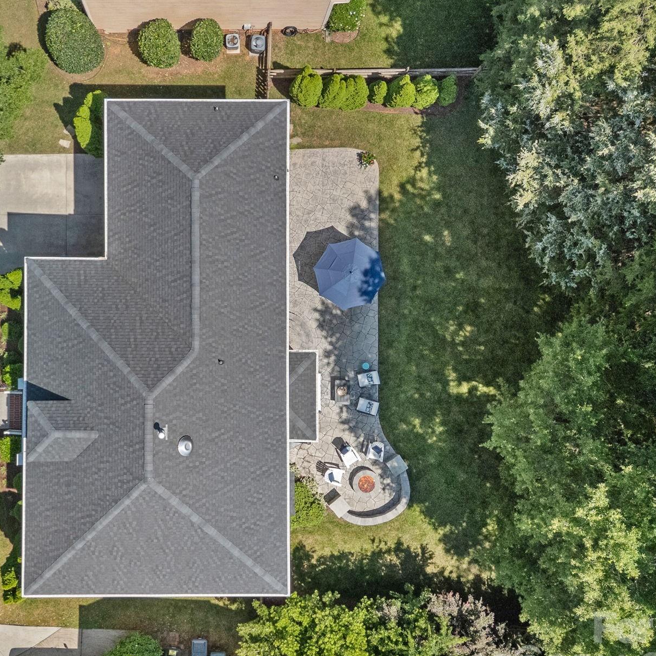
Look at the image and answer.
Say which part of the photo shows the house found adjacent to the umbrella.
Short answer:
left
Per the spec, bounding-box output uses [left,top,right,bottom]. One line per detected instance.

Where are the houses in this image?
[17,99,322,597]
[83,0,351,36]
